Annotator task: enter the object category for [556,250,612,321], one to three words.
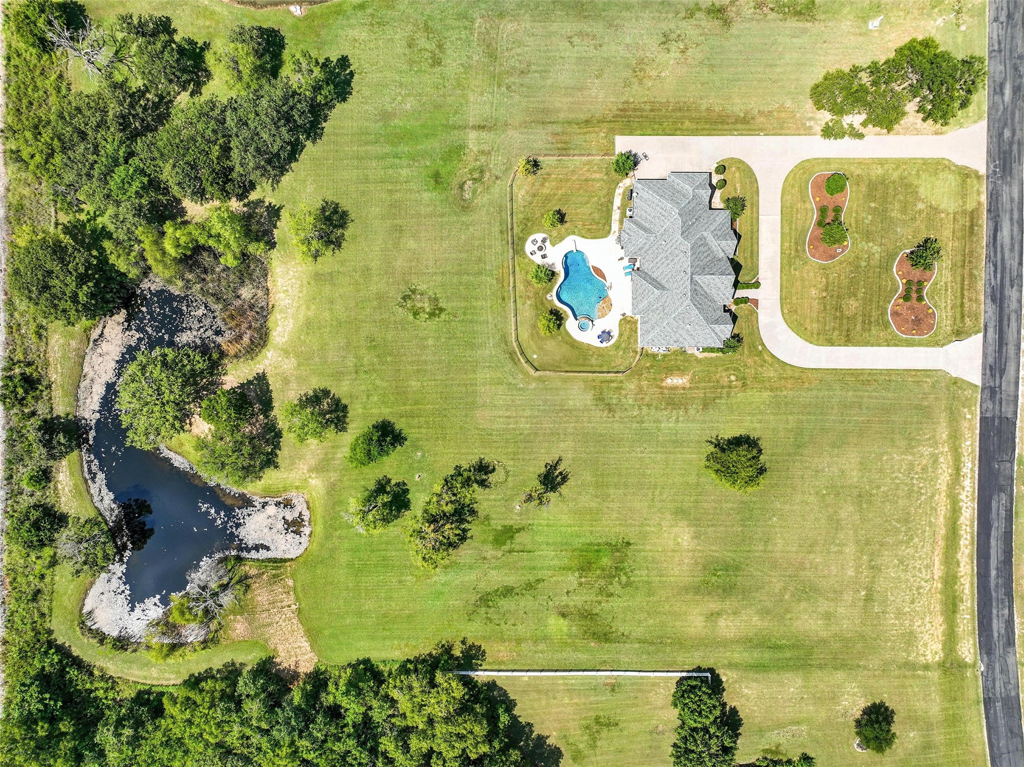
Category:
swimming pool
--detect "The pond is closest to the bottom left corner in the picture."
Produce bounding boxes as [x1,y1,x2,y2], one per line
[77,280,313,643]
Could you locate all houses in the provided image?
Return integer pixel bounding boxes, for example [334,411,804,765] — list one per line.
[620,172,738,348]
